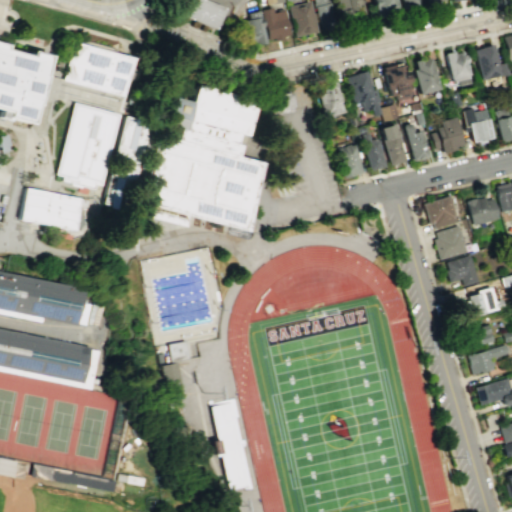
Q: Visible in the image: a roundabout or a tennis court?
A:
tennis court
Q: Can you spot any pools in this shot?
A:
Yes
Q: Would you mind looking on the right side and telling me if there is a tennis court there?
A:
No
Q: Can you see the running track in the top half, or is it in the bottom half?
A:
bottom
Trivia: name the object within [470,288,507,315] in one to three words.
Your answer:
house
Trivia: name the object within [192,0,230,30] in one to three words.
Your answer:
building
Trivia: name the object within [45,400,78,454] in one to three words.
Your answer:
tennis court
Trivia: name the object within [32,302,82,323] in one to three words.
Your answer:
solar array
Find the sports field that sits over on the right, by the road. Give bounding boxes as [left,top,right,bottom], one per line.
[250,294,430,512]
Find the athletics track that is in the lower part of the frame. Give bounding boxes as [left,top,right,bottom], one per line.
[227,245,453,512]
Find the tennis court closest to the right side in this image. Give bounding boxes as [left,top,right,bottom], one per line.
[75,406,108,461]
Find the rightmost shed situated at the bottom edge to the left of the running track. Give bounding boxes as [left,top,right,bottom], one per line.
[52,472,115,492]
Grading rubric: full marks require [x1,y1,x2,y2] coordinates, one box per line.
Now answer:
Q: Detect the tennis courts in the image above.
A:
[0,388,18,442]
[45,400,78,454]
[15,394,48,448]
[75,406,108,461]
